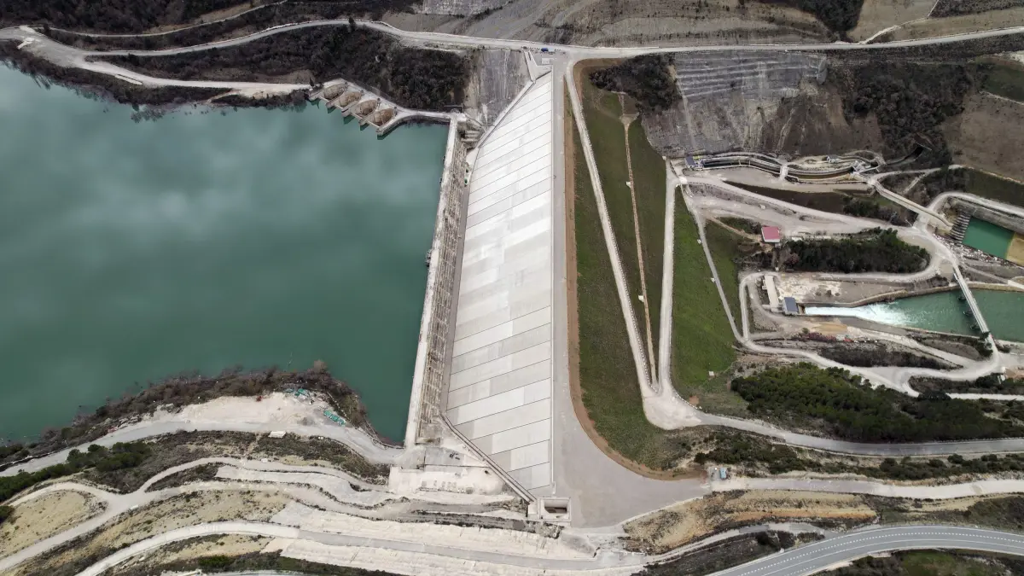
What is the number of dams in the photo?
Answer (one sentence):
In total, 2 dams can be seen.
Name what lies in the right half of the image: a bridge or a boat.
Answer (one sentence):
The one visible in the right half of the image is a bridge.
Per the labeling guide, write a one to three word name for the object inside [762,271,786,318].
building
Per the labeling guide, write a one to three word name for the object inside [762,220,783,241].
house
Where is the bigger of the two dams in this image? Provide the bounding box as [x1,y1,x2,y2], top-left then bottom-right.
[439,52,761,526]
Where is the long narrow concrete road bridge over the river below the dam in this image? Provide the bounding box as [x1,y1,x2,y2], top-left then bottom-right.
[947,263,997,347]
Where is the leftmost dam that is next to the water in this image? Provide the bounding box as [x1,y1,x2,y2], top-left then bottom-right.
[406,119,464,445]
